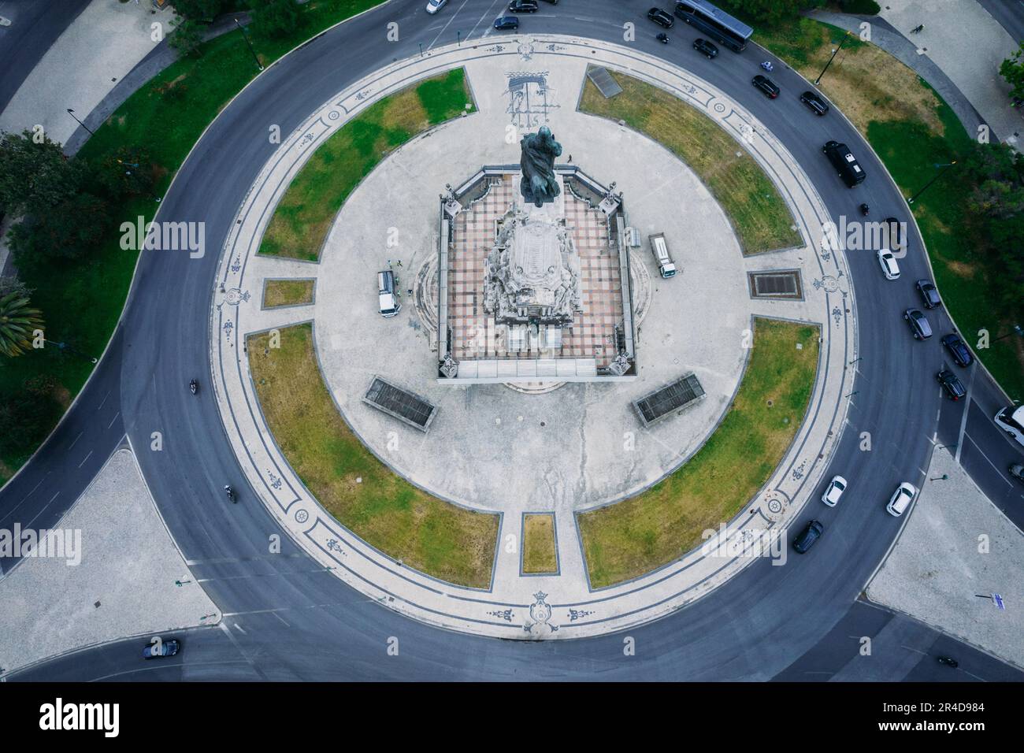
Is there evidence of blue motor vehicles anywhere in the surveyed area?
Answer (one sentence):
Yes, the frame does contain a blue motor vehicle.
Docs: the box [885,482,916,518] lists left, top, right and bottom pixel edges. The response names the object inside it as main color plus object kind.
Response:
white car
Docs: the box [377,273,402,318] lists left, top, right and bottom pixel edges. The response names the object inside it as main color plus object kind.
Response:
white truck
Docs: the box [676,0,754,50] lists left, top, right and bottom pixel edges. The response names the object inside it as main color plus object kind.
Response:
blue bus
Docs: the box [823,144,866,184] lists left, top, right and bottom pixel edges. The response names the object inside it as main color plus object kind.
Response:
black vehicle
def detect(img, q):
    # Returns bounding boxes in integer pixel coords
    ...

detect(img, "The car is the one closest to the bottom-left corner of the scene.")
[140,638,183,660]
